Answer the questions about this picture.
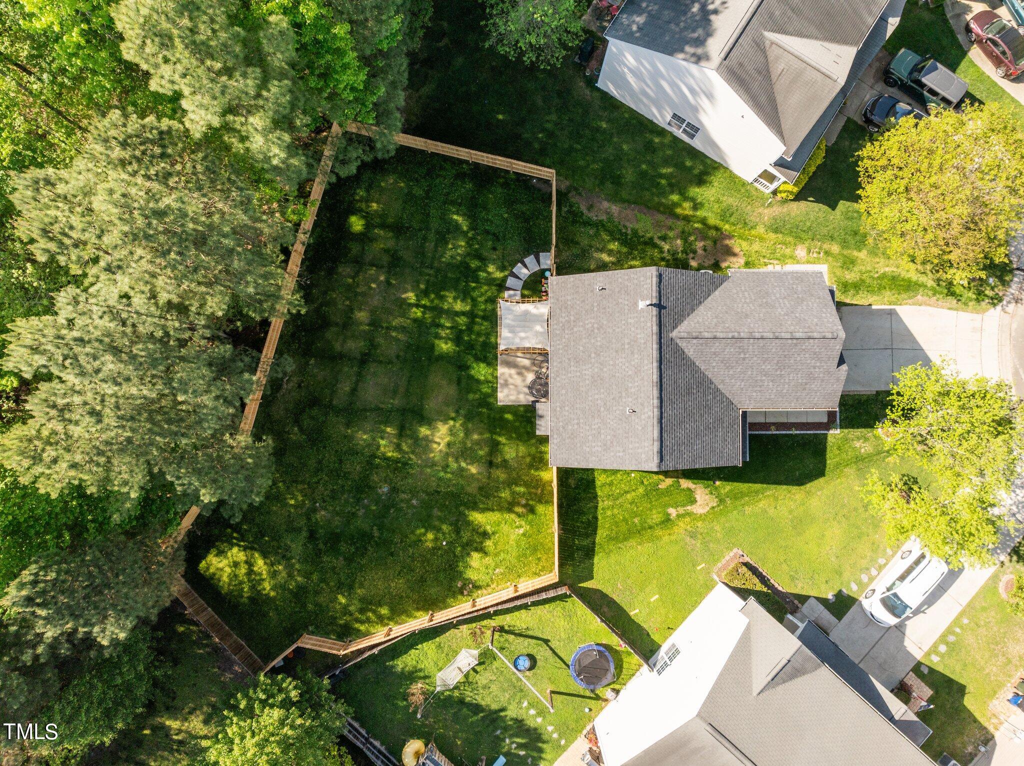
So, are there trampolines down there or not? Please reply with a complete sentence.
Yes, the frame does contain a trampoline.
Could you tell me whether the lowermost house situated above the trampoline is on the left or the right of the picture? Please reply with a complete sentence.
You can find the lowermost house situated above the trampoline on the right side of the picture.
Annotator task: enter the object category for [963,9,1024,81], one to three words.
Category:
car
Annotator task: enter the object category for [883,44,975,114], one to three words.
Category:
car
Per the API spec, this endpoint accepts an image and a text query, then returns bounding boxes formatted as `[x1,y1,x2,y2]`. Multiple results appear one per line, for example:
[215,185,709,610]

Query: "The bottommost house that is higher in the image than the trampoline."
[536,267,849,471]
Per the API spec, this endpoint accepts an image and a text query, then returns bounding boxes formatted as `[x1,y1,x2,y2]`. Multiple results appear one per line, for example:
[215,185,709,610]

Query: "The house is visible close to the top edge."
[595,0,909,195]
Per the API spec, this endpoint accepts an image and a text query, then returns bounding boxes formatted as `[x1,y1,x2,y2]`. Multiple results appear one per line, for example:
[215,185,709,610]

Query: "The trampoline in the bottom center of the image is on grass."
[569,639,616,693]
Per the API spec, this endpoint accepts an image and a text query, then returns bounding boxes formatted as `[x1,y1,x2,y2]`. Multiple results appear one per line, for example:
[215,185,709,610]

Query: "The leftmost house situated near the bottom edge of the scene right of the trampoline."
[596,576,939,766]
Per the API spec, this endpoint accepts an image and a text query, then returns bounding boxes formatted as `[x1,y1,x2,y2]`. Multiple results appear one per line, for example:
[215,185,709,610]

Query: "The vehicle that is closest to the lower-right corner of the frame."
[862,542,947,626]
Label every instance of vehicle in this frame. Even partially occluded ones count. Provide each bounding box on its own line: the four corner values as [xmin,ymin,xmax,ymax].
[863,94,942,144]
[999,0,1024,35]
[883,44,975,114]
[862,542,947,626]
[963,9,1024,81]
